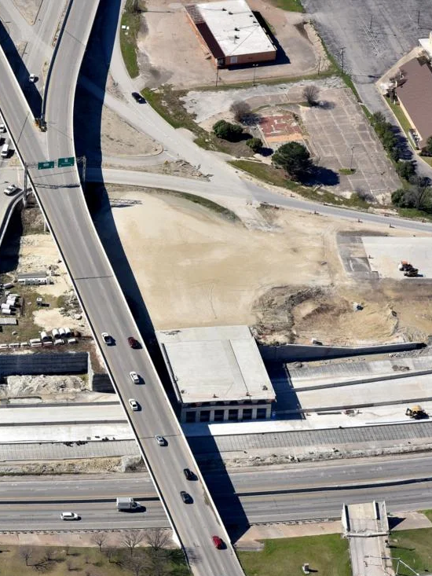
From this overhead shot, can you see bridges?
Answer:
Yes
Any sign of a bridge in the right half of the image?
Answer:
Yes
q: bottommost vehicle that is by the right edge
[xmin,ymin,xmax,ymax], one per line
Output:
[401,404,425,417]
